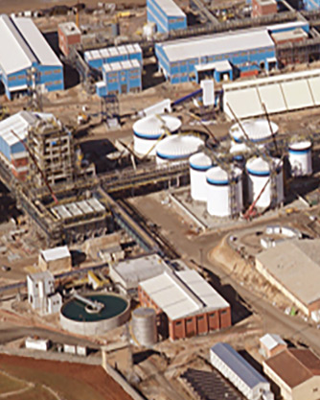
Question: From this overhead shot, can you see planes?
No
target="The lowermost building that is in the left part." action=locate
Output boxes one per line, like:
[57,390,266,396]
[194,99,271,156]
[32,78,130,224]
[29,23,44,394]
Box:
[98,335,134,366]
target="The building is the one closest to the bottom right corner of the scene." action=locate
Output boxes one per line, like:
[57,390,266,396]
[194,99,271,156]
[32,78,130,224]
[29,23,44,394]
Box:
[267,350,320,400]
